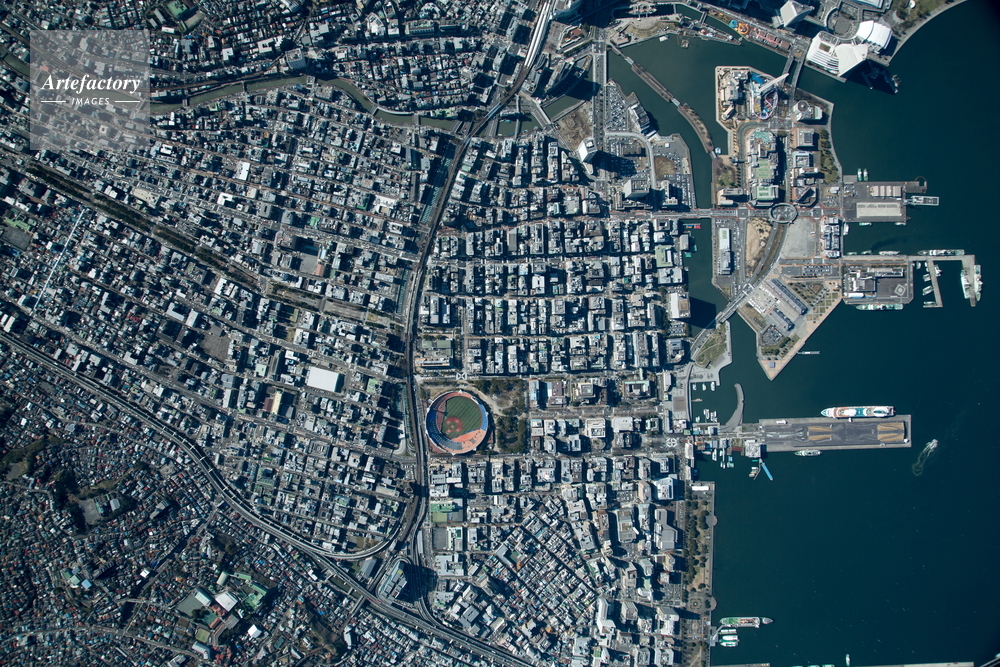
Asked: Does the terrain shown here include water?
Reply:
Yes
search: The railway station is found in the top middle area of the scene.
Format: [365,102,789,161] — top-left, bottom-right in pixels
[524,0,555,67]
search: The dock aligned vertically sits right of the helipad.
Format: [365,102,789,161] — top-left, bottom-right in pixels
[923,261,943,307]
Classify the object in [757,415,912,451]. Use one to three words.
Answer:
pier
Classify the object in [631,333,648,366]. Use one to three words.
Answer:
building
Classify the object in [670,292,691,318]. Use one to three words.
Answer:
building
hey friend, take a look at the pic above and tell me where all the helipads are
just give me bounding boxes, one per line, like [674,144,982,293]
[892,281,908,298]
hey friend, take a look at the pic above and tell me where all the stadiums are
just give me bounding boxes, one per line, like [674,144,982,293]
[424,391,489,457]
